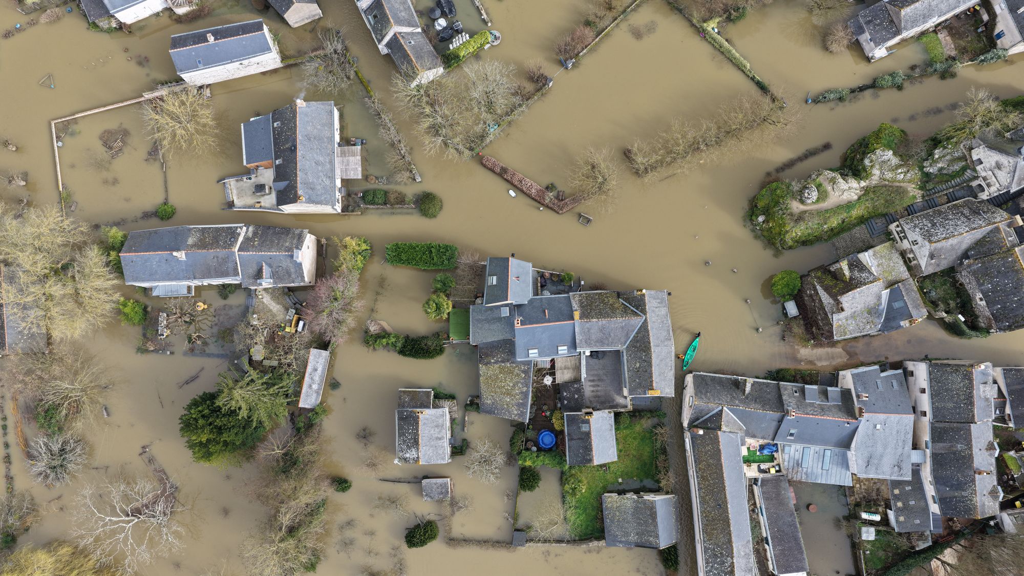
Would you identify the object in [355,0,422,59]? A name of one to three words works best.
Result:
house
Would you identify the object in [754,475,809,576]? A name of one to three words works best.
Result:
barn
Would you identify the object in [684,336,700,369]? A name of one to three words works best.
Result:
boat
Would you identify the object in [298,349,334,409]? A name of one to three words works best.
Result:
shed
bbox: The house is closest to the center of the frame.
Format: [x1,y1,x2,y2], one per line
[483,257,533,305]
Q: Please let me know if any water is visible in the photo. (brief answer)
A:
Yes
